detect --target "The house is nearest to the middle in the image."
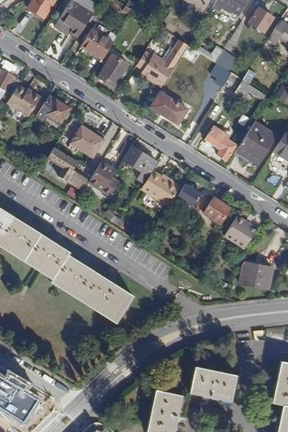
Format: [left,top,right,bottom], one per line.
[140,172,178,204]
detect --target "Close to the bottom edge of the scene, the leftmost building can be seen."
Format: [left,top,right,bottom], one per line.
[0,370,44,422]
